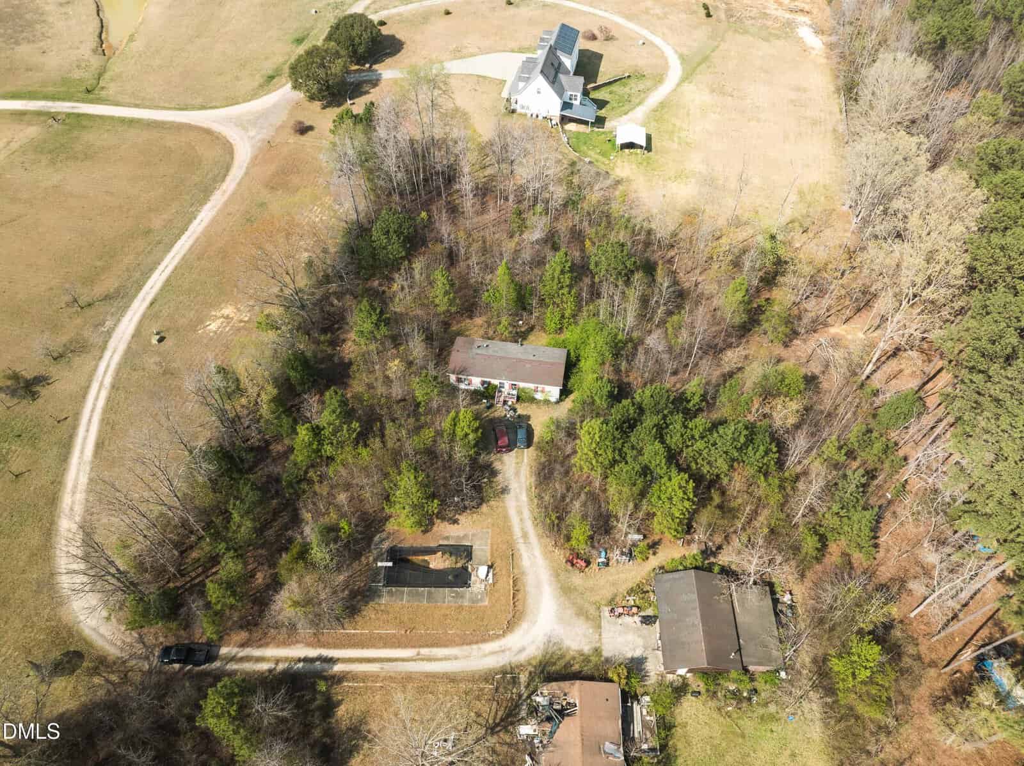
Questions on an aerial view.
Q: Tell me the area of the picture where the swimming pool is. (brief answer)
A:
bottom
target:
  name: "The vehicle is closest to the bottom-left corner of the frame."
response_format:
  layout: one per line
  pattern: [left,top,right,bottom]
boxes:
[155,647,210,670]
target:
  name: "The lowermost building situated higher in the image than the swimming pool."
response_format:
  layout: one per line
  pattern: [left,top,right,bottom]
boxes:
[446,336,568,409]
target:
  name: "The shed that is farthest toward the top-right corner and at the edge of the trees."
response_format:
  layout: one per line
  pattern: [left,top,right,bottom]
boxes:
[616,124,647,153]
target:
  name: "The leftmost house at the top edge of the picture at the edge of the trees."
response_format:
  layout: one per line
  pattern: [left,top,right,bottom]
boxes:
[508,16,598,131]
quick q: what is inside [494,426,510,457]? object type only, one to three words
car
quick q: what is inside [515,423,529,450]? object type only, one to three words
car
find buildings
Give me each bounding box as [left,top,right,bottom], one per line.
[616,124,647,153]
[446,336,568,409]
[652,570,783,674]
[529,681,628,766]
[508,16,598,131]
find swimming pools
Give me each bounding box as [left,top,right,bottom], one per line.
[363,532,490,605]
